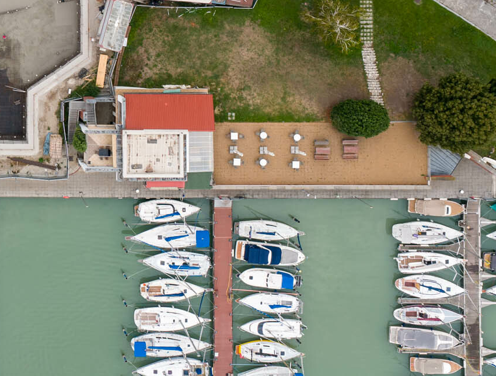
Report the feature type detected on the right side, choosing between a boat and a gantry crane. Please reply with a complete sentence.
The feature located on the right side is a boat.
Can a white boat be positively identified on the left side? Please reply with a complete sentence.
Yes, a white boat can be seen on the left side.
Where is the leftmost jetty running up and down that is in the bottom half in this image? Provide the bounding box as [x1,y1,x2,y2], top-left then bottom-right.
[203,194,239,376]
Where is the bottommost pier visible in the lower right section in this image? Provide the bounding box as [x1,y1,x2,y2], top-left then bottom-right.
[397,194,496,376]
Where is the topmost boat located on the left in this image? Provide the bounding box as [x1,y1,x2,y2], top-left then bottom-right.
[132,200,203,229]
